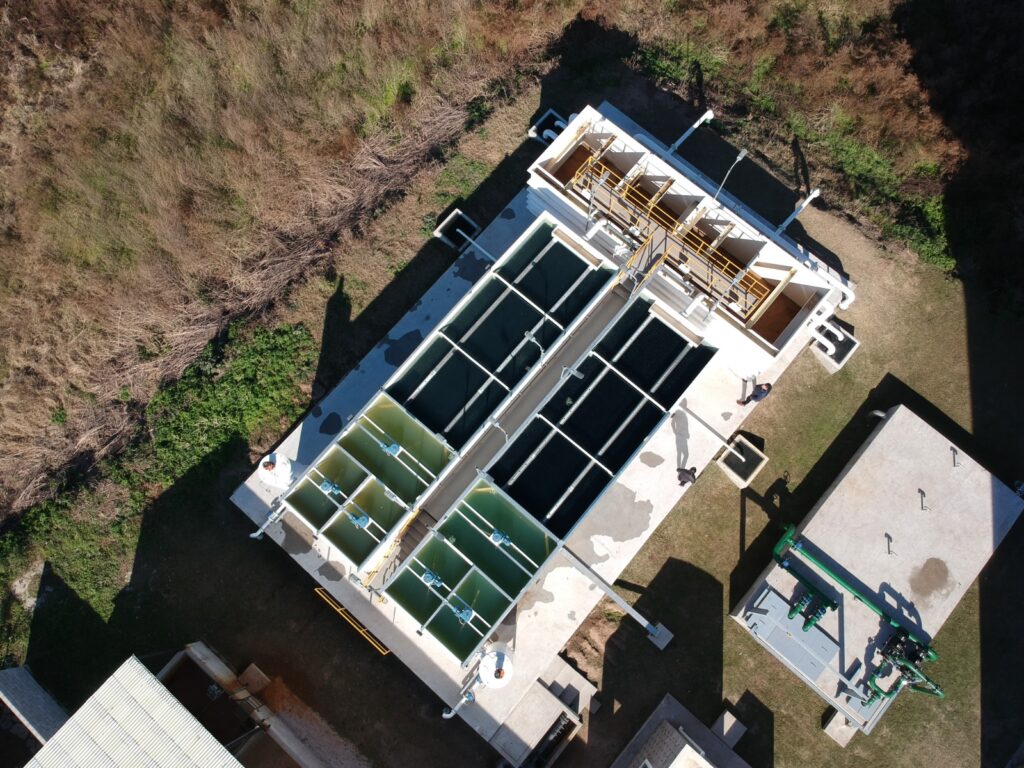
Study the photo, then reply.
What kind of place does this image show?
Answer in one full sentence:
It's an industrial area.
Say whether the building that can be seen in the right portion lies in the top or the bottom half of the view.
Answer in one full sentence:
You can find the building that can be seen in the right portion in the bottom half.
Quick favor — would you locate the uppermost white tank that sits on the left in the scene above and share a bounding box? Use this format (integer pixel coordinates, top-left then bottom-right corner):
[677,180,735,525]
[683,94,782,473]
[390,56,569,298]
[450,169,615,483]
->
[259,454,308,492]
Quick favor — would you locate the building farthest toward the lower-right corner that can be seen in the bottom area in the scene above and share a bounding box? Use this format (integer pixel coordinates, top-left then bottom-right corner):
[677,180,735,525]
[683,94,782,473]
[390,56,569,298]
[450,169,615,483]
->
[633,721,726,768]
